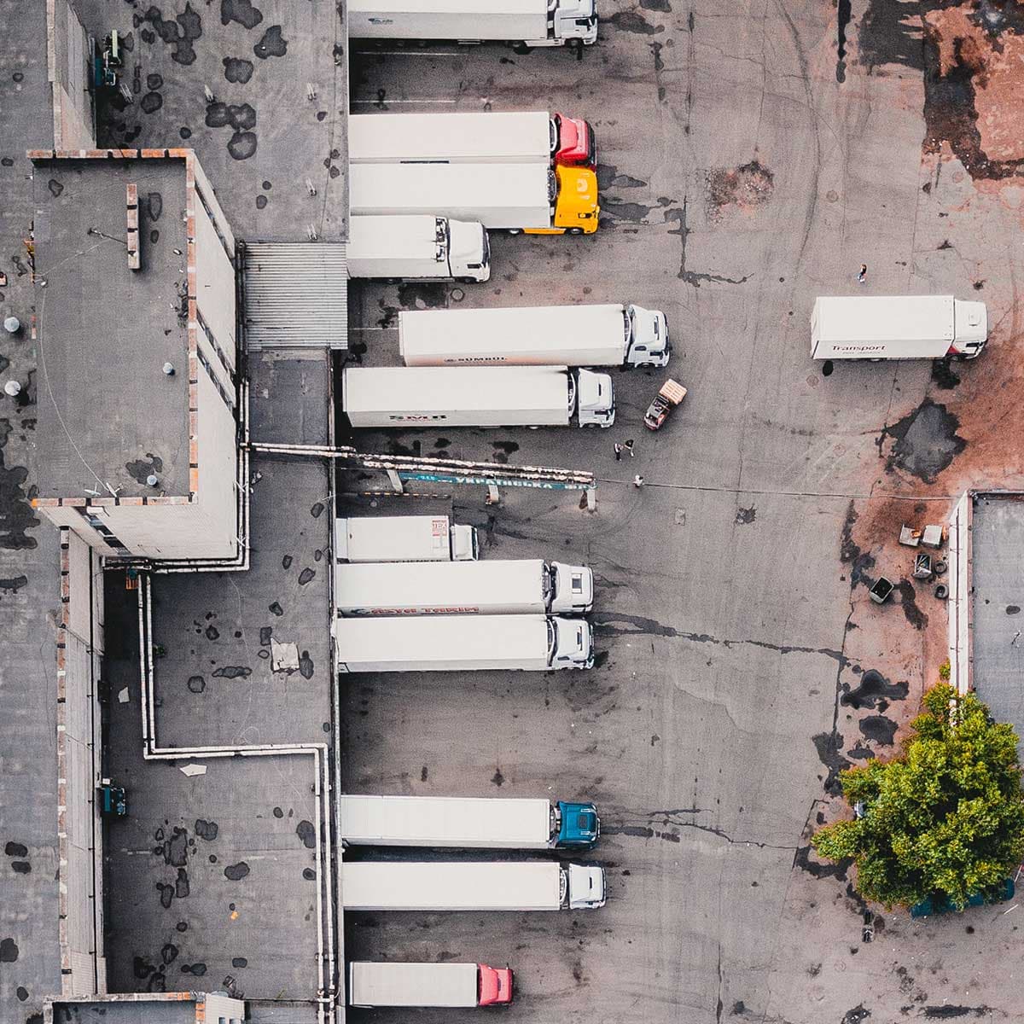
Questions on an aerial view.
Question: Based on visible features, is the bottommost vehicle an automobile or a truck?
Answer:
truck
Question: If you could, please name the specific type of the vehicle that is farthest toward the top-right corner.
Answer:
truck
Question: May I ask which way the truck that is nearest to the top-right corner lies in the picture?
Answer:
from side to side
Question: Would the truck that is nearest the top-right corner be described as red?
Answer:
No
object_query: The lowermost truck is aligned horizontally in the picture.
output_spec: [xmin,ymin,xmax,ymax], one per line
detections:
[351,962,514,1010]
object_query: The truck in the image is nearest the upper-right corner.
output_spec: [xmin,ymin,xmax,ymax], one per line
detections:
[810,295,992,365]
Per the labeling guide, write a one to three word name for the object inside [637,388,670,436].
work vehicle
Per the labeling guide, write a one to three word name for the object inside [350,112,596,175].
truck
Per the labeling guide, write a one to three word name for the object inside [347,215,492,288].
truck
